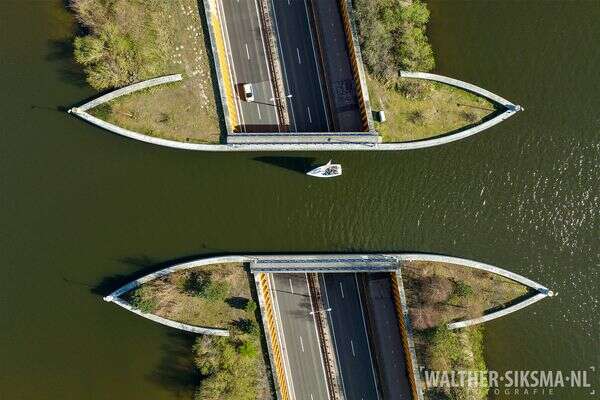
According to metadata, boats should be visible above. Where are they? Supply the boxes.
[307,160,343,179]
